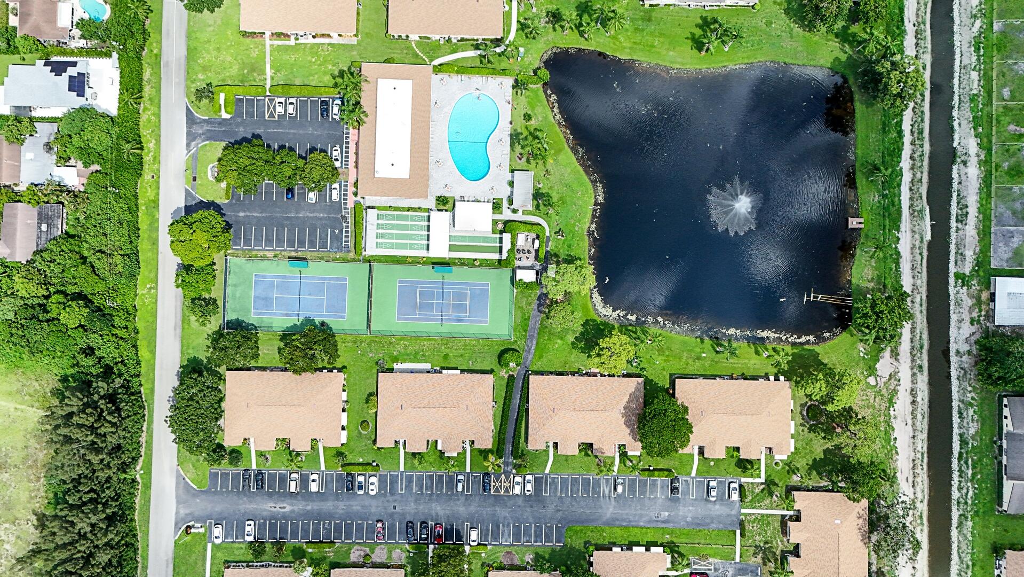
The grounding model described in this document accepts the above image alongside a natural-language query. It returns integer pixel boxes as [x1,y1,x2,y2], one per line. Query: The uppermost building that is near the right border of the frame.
[987,277,1024,325]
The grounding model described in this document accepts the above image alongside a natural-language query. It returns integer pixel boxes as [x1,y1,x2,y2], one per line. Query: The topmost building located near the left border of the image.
[19,0,77,42]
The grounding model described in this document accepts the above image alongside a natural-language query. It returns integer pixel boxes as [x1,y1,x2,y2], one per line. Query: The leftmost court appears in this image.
[223,259,368,335]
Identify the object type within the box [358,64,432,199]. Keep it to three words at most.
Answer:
building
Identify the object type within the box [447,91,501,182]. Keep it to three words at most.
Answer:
swimming pool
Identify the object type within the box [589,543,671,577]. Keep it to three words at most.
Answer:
house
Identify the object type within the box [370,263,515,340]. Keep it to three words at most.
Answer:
tennis court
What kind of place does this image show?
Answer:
residential area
